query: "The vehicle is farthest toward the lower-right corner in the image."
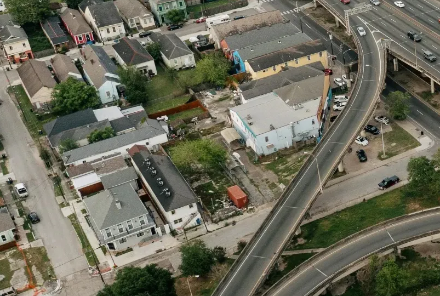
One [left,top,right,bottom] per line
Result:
[376,173,400,188]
